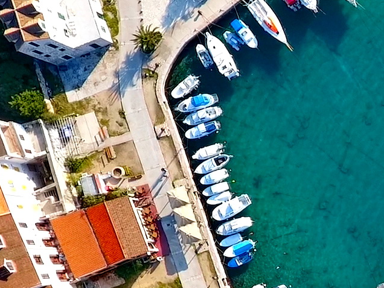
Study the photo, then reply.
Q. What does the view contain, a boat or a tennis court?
boat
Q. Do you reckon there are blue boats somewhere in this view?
Yes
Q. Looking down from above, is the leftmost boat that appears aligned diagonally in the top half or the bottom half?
top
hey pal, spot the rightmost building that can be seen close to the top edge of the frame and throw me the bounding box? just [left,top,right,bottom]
[59,0,112,54]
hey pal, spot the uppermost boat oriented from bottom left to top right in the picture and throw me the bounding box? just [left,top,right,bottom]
[170,75,200,98]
